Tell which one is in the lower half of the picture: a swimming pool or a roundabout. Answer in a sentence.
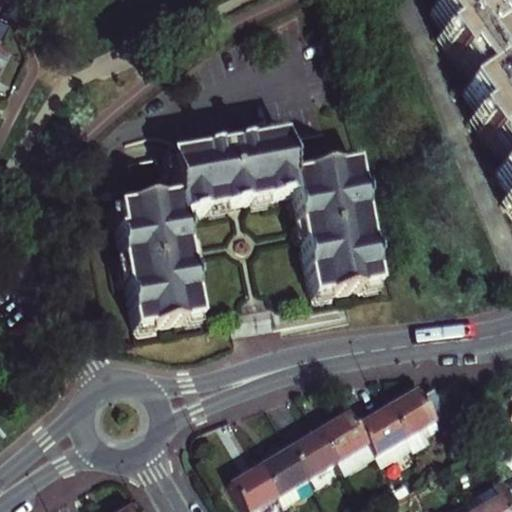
Visible in the lower half of the picture is a roundabout.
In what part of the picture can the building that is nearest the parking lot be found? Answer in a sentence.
The building that is nearest the parking lot sits in the center section of the image.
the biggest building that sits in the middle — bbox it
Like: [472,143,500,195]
[114,124,390,341]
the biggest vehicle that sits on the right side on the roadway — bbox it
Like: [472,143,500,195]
[412,327,476,345]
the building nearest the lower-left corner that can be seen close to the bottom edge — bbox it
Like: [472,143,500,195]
[226,460,284,512]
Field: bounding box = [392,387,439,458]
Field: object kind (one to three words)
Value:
house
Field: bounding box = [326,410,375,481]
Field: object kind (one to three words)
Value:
house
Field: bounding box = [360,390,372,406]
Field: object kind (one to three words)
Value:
vehicle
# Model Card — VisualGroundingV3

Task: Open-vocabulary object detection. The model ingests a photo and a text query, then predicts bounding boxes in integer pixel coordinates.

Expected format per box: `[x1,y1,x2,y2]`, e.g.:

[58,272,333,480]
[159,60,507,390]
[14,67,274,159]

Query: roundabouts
[68,368,176,476]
